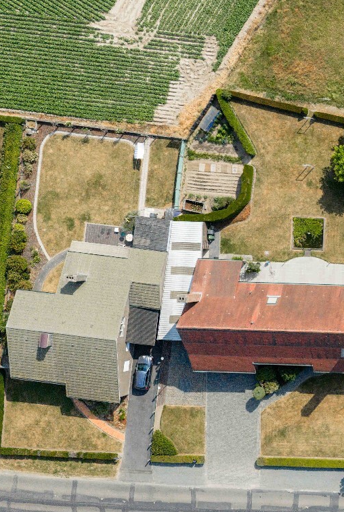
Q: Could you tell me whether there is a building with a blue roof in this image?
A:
No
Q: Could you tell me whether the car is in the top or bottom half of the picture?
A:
bottom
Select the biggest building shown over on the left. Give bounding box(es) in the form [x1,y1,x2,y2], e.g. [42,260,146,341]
[5,240,167,405]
